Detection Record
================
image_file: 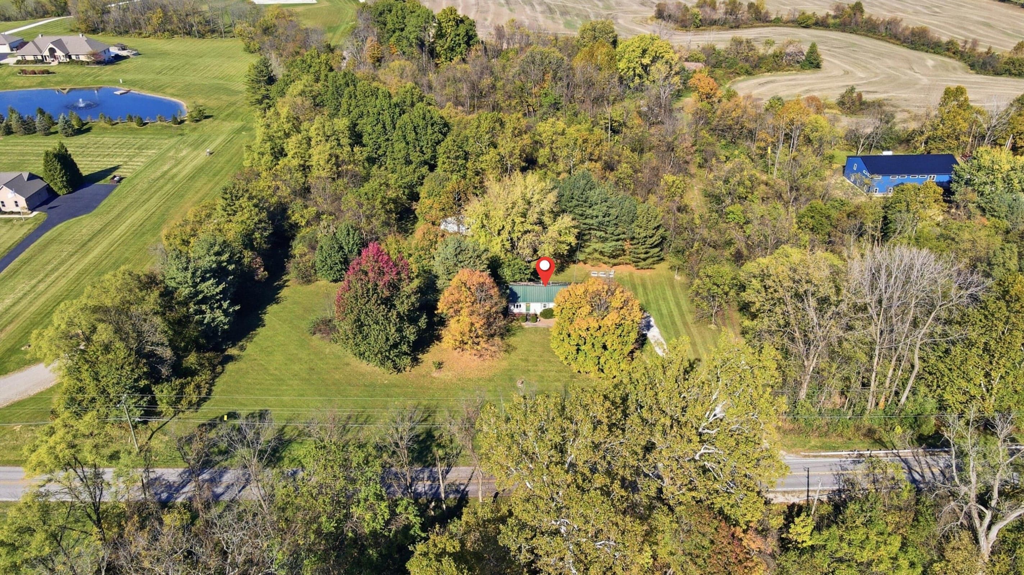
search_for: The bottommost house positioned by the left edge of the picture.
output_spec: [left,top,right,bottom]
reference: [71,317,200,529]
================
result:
[0,163,58,212]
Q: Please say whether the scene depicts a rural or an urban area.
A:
rural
